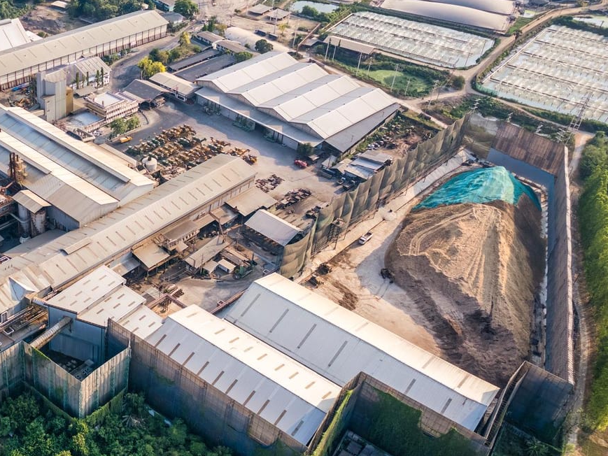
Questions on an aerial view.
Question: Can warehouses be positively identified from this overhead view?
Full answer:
Yes, you can see a warehouse in this photo.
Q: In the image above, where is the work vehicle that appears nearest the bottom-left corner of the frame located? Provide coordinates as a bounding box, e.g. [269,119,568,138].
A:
[232,265,254,279]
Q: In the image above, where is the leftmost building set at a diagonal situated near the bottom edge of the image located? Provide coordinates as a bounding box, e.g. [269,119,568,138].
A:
[141,301,352,454]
